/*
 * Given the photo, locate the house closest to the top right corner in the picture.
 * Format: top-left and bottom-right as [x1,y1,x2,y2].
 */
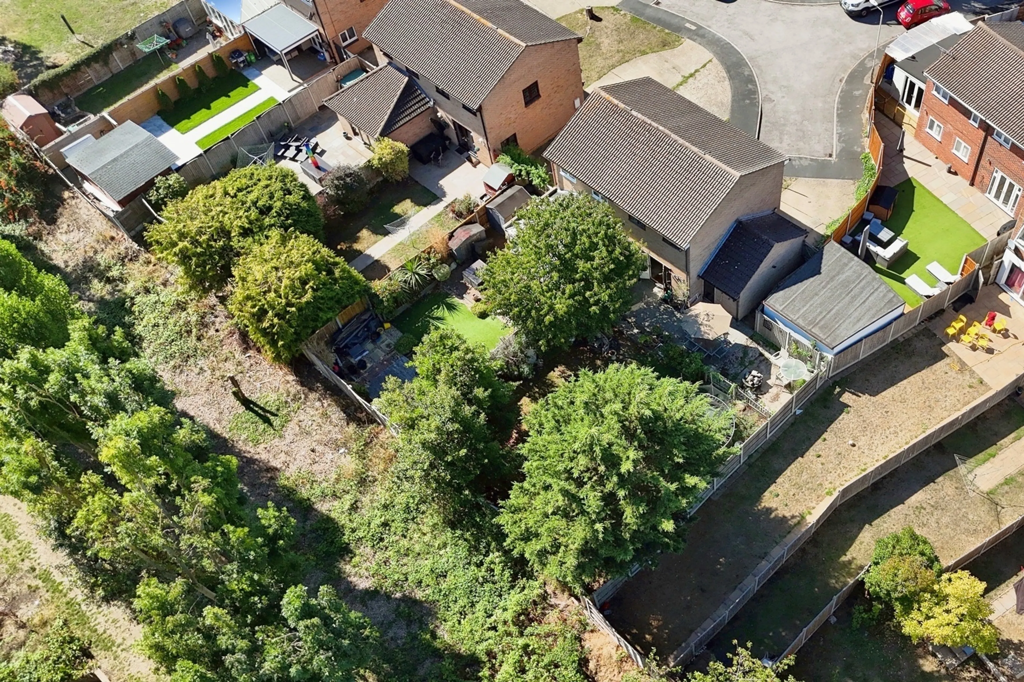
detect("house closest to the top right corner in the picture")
[895,18,1024,212]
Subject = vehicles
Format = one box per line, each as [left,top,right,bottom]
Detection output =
[842,0,903,20]
[895,0,952,32]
